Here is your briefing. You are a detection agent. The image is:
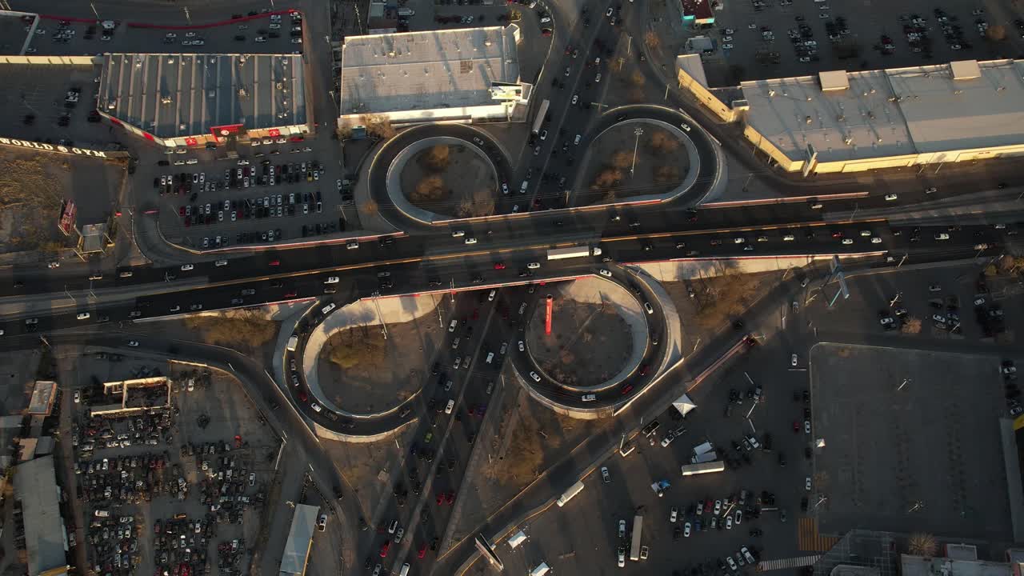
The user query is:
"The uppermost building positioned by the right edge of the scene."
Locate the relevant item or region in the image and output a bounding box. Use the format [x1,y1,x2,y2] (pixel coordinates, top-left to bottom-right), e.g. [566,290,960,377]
[740,59,1024,175]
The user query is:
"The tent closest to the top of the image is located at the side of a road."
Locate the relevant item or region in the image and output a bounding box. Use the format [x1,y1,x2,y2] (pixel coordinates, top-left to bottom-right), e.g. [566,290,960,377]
[669,392,697,419]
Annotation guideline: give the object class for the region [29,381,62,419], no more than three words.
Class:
building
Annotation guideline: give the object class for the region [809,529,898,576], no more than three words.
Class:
building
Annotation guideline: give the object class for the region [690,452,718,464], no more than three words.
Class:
vehicle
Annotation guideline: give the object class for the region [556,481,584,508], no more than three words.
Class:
truck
